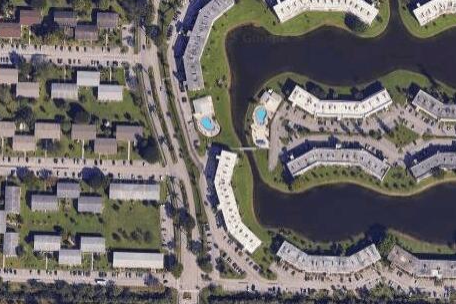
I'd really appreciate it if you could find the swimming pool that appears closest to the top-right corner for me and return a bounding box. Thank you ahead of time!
[252,105,280,148]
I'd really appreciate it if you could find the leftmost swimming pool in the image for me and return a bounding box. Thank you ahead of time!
[195,113,221,137]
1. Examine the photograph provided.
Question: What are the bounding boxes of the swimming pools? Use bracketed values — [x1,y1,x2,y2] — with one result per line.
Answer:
[252,105,280,148]
[195,113,221,137]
